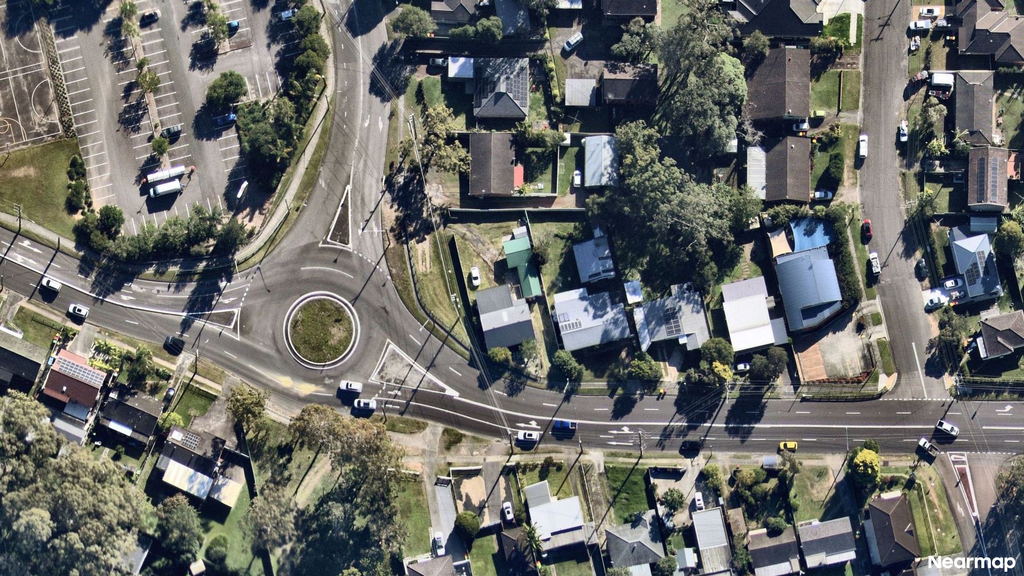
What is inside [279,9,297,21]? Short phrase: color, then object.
blue vehicle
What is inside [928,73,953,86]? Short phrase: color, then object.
white vehicle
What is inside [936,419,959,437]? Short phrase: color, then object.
white vehicle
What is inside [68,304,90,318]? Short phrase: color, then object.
white car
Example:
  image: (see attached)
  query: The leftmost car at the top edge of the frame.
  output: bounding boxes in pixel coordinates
[140,12,162,24]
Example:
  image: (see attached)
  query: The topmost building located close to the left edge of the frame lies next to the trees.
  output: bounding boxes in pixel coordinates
[0,322,48,386]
